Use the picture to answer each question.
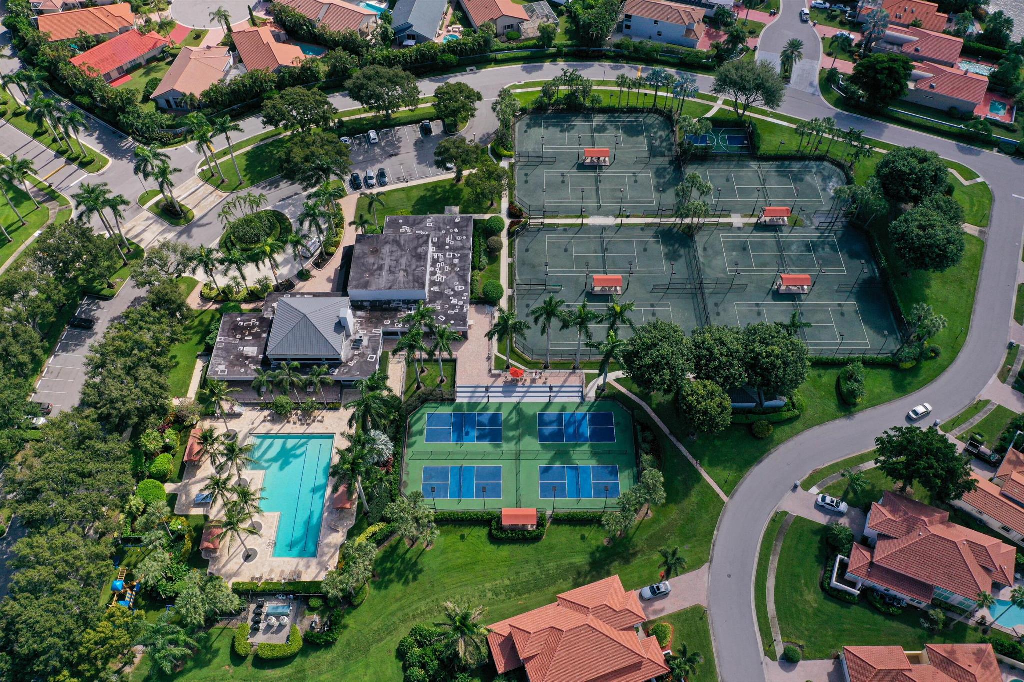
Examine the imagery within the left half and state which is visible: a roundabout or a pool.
pool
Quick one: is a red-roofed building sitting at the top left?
Yes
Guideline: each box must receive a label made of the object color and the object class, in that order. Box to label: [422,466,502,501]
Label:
blue sports court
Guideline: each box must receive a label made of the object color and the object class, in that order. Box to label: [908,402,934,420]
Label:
white car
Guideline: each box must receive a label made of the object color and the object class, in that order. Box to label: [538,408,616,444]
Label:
blue sports court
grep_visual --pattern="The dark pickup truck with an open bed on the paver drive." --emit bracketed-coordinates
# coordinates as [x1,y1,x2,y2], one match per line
[964,440,1002,465]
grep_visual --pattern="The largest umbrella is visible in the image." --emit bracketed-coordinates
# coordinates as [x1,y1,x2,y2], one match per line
[510,367,527,382]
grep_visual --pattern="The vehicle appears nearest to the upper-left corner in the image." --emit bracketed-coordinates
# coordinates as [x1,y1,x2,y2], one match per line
[68,318,95,330]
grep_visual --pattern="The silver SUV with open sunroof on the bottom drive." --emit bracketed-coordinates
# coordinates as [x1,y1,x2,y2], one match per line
[640,579,673,600]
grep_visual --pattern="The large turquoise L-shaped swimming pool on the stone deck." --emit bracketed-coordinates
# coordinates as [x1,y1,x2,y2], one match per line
[245,432,337,560]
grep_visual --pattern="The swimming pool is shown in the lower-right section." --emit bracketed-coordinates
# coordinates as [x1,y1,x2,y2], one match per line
[988,598,1024,627]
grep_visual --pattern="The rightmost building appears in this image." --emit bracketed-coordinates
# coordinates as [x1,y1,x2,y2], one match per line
[959,447,1024,546]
